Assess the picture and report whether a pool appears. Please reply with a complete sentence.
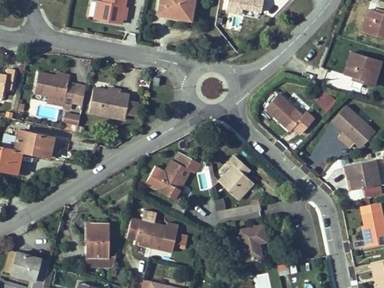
Yes, I can see a pool in this picture.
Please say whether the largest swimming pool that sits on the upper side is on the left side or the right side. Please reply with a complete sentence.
The largest swimming pool that sits on the upper side is on the left side of the image.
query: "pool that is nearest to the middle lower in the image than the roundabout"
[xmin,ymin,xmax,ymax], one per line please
[197,164,211,190]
